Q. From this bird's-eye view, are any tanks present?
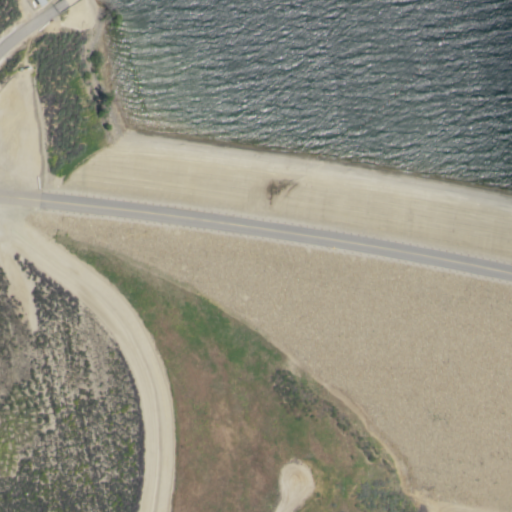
No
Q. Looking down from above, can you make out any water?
Yes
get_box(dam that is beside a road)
[26,129,512,511]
